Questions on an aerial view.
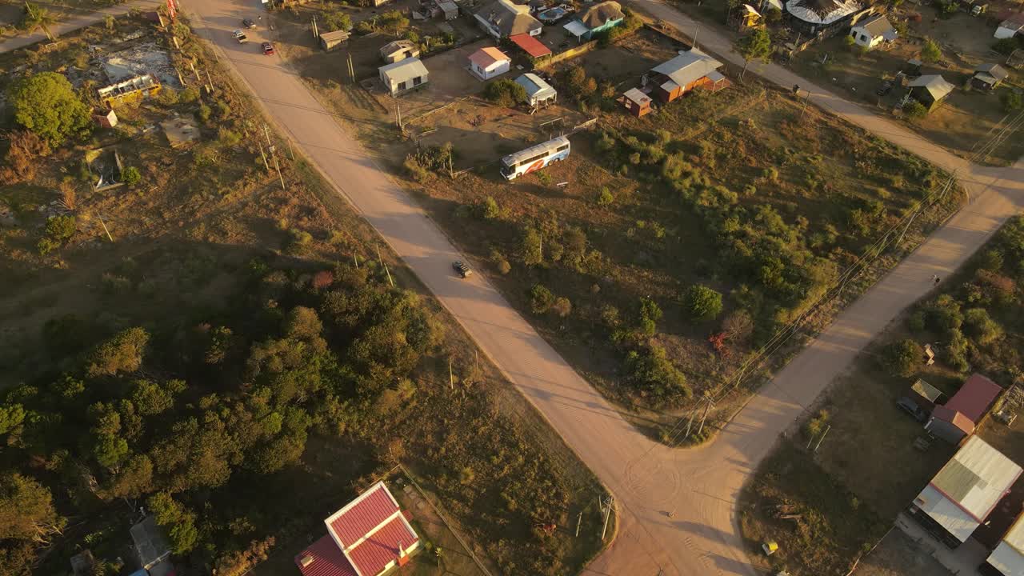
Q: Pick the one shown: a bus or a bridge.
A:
bus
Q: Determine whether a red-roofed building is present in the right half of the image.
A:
Yes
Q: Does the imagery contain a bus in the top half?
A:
Yes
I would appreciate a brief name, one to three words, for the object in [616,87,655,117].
shed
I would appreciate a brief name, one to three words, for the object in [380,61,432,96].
house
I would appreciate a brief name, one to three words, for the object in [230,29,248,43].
vehicle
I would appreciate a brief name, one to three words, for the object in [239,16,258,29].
vehicle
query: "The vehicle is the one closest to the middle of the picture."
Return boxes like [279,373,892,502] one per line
[451,258,475,279]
